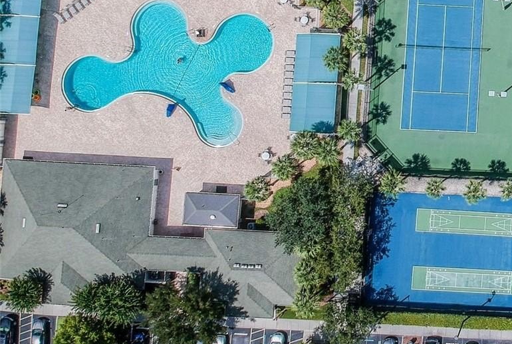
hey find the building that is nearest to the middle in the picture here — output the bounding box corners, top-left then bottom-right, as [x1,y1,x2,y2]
[182,191,241,227]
